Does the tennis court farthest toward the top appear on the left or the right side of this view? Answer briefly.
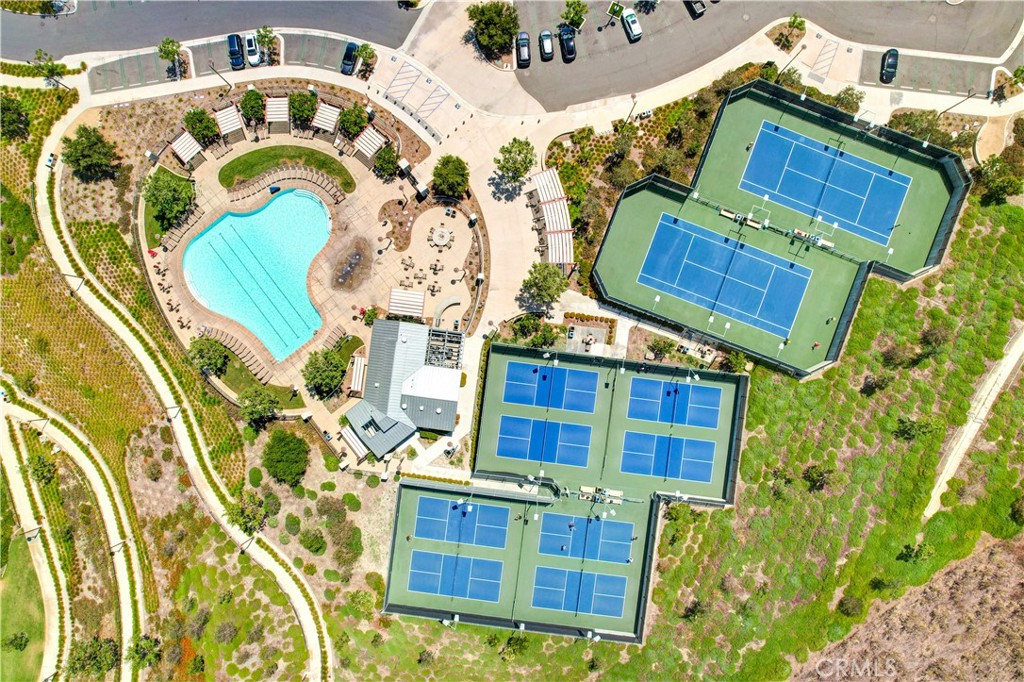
right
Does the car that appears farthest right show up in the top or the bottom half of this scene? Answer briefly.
top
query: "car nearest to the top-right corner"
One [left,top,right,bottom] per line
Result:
[878,48,898,83]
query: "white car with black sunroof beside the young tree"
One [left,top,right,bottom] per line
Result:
[242,34,261,67]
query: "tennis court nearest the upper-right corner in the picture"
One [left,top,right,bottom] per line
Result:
[688,88,957,273]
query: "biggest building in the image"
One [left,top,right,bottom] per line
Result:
[345,320,466,458]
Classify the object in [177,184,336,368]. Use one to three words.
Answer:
swimming pool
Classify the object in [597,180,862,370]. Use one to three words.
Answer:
tennis court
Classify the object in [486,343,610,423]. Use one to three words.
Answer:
sports court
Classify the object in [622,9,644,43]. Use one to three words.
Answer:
car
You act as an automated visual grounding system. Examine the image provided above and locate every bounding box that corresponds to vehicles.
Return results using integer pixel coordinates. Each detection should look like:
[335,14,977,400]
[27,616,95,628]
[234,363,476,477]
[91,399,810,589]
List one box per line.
[559,28,576,64]
[539,30,553,61]
[340,42,358,75]
[878,48,898,83]
[515,33,531,67]
[686,0,710,19]
[226,34,248,71]
[622,9,644,43]
[242,34,261,67]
